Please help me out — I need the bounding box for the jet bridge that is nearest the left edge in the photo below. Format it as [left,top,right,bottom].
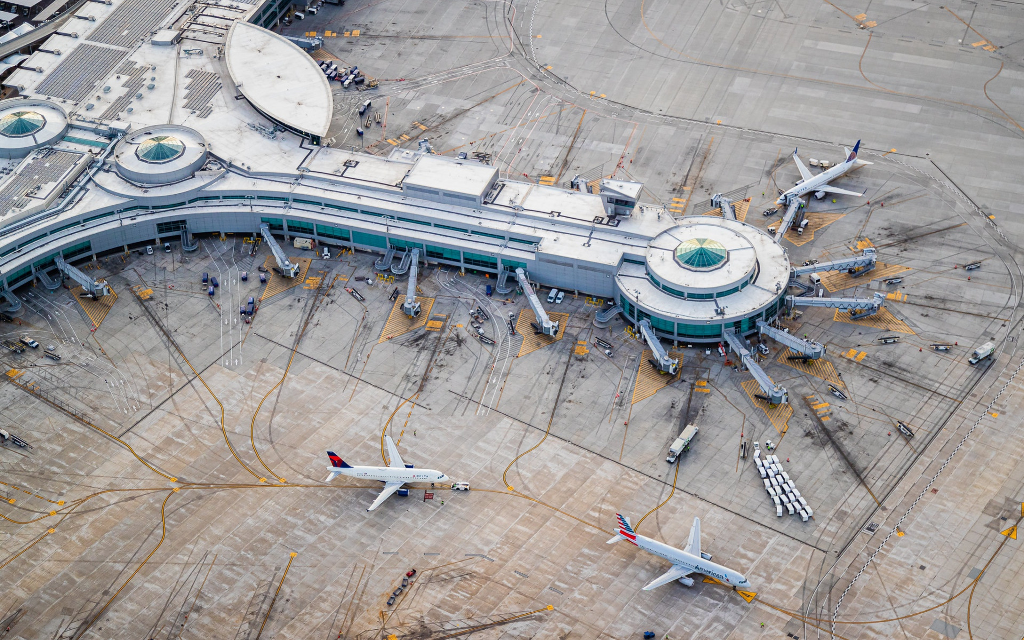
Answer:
[56,261,113,300]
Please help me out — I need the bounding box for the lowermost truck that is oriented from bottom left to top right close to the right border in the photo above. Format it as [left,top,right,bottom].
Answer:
[968,343,997,365]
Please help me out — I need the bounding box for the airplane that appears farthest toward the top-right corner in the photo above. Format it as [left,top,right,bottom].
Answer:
[776,139,873,206]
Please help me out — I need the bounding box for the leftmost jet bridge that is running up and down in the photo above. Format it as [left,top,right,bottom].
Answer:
[401,251,423,318]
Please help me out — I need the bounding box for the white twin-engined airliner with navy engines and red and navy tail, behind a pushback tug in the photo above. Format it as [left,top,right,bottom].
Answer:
[326,434,449,512]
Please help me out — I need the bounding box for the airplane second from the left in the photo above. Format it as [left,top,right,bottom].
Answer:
[607,514,751,591]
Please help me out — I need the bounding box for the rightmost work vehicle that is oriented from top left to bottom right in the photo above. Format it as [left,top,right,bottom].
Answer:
[897,421,914,436]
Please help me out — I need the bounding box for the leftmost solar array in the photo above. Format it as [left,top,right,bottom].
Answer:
[0,149,81,217]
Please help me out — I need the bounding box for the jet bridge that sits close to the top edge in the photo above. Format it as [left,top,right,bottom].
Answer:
[271,28,326,53]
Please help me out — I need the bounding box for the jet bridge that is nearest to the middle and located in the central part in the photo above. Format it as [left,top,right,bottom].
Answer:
[514,270,561,338]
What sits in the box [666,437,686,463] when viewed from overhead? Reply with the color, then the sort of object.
white vehicle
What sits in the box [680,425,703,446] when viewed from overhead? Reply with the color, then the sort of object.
white truck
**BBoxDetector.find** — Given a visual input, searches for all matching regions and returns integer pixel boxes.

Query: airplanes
[607,514,751,591]
[776,139,873,206]
[326,434,449,512]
